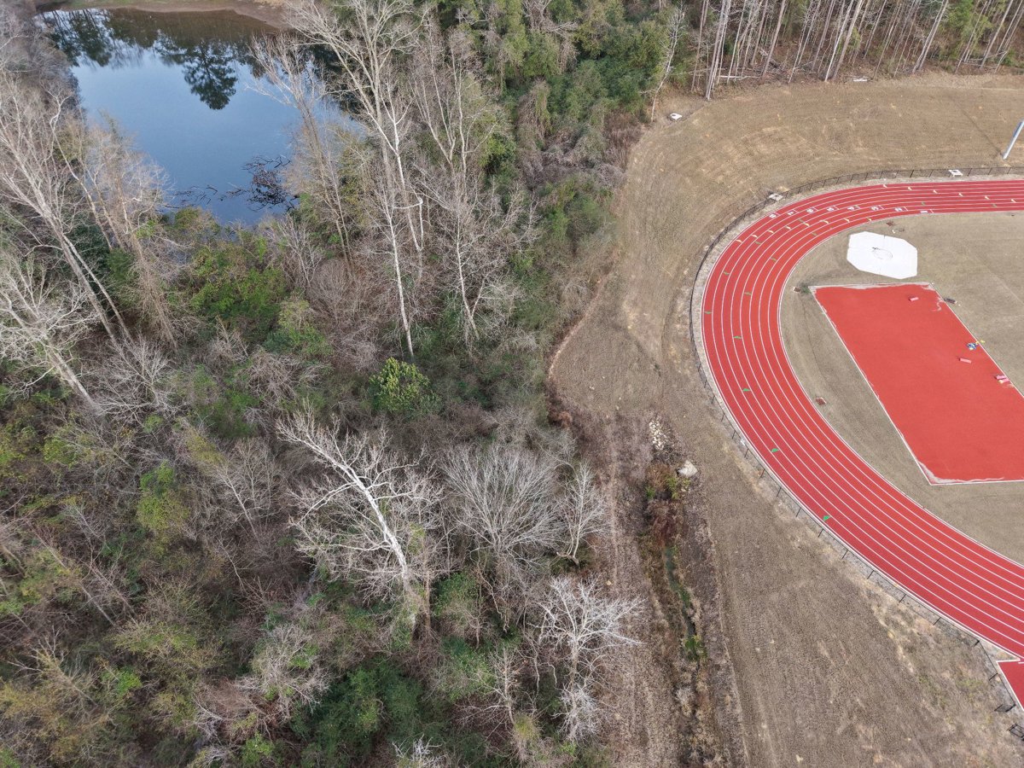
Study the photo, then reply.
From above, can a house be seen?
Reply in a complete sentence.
No, the scene contains no house.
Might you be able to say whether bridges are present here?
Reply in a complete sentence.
No, there isn't any bridge down there.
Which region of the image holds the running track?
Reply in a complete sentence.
You can find the running track in the right area of the picture.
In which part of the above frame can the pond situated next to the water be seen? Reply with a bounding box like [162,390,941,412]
[36,7,379,234]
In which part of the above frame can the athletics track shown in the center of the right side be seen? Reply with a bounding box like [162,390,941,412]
[698,178,1024,660]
